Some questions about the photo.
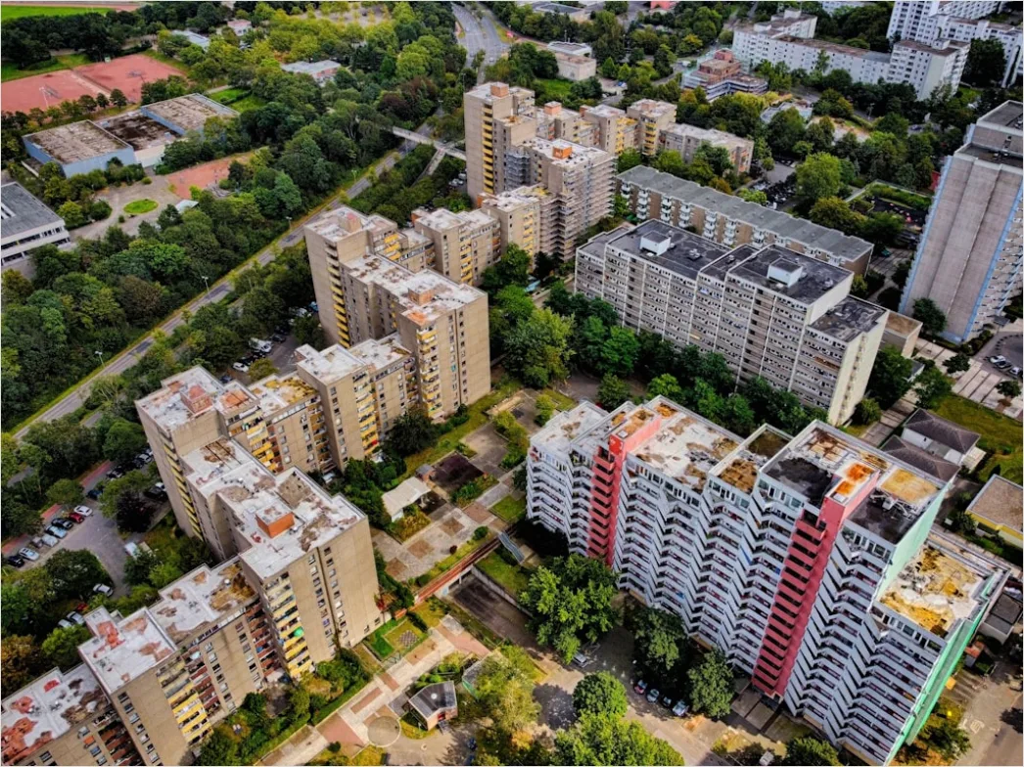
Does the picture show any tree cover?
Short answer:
Yes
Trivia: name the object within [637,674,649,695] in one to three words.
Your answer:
vehicle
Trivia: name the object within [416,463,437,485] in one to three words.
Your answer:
shed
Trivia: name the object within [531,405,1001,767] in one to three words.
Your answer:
building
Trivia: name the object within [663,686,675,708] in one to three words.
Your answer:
vehicle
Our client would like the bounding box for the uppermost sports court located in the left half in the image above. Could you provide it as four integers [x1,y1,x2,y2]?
[0,54,187,105]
